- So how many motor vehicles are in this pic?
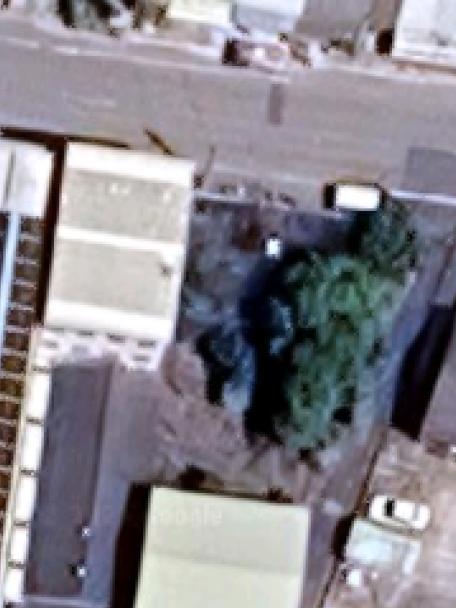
3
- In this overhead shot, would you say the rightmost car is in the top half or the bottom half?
bottom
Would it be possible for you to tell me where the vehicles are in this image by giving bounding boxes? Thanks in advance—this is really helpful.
[367,496,433,532]
[322,180,384,212]
[222,39,292,70]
